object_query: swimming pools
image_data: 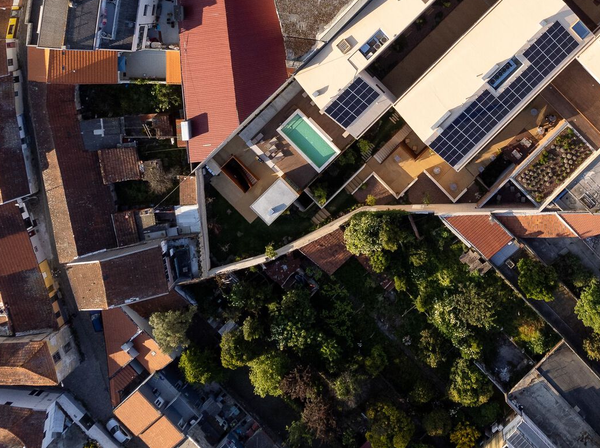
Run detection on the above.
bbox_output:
[277,108,341,173]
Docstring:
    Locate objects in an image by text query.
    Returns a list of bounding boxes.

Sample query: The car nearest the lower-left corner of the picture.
[103,412,134,446]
